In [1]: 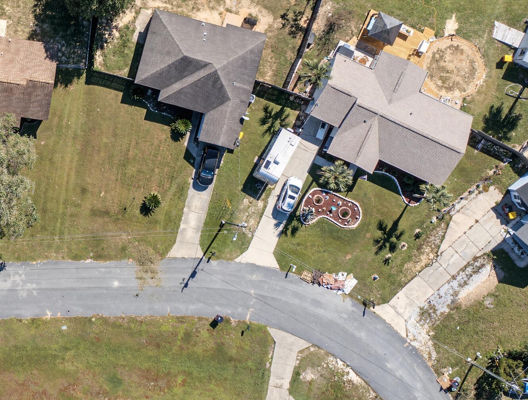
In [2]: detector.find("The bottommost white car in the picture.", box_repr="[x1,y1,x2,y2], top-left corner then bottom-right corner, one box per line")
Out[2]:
[278,176,304,216]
